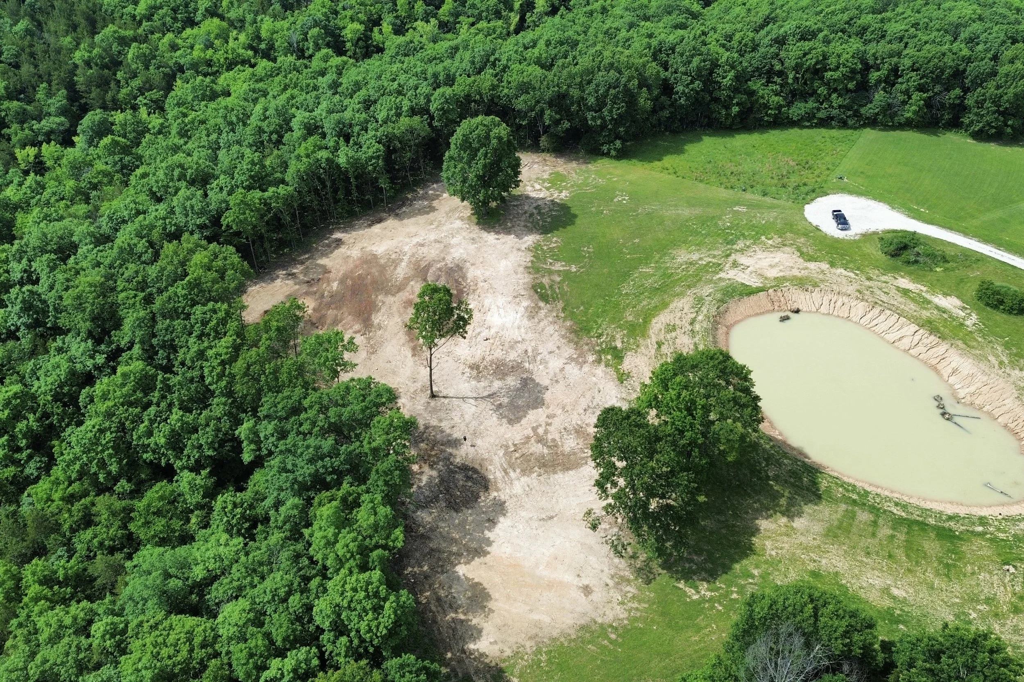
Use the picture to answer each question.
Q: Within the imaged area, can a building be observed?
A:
No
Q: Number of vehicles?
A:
one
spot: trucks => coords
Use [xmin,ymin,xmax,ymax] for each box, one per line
[832,206,853,227]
